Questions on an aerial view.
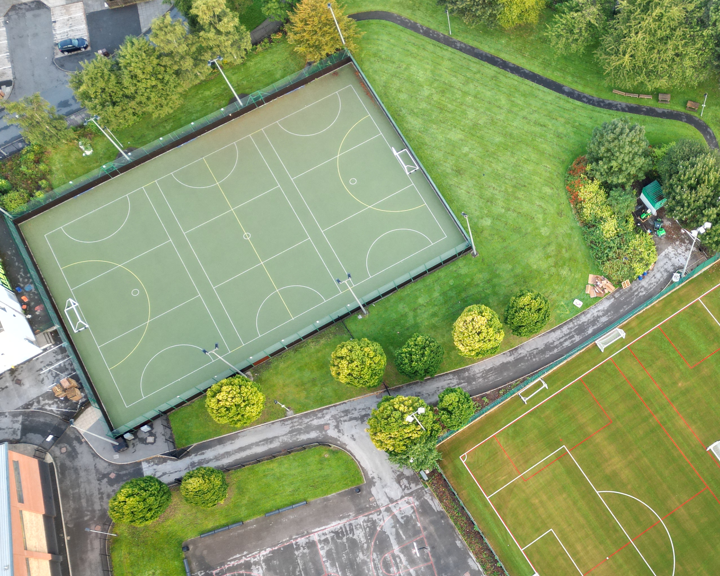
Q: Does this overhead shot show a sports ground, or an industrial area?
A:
sports ground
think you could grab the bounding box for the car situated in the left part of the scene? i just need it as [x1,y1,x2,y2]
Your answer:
[57,38,85,54]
